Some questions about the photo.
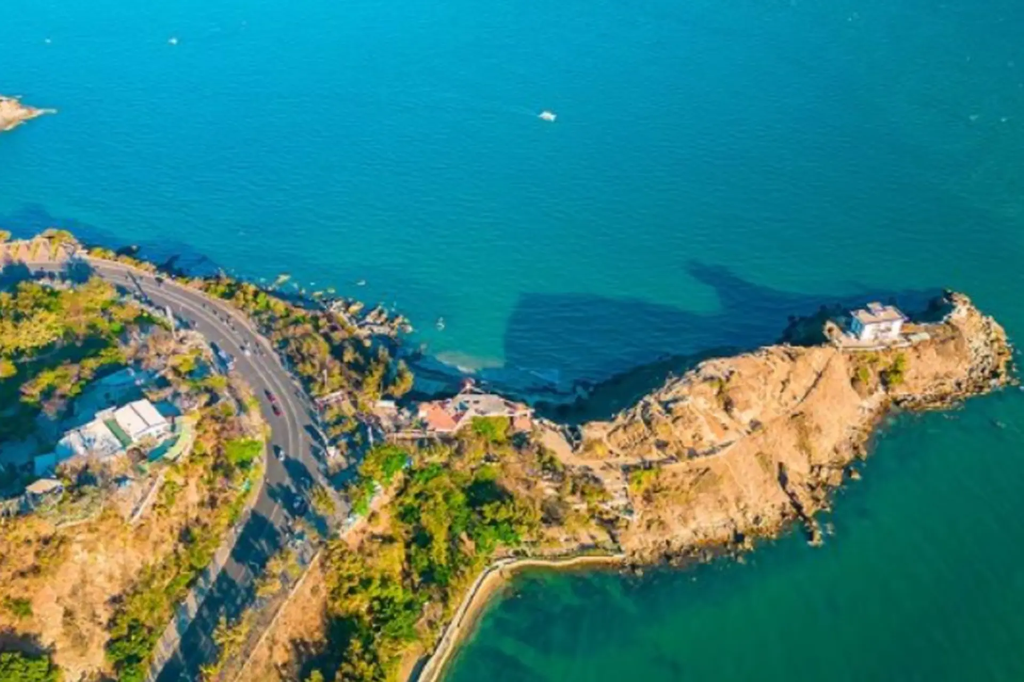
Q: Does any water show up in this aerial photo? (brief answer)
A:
Yes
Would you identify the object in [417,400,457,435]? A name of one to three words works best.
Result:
building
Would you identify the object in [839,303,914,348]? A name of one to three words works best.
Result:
house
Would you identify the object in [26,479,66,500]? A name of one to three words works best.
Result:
shed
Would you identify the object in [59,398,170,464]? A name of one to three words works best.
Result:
house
